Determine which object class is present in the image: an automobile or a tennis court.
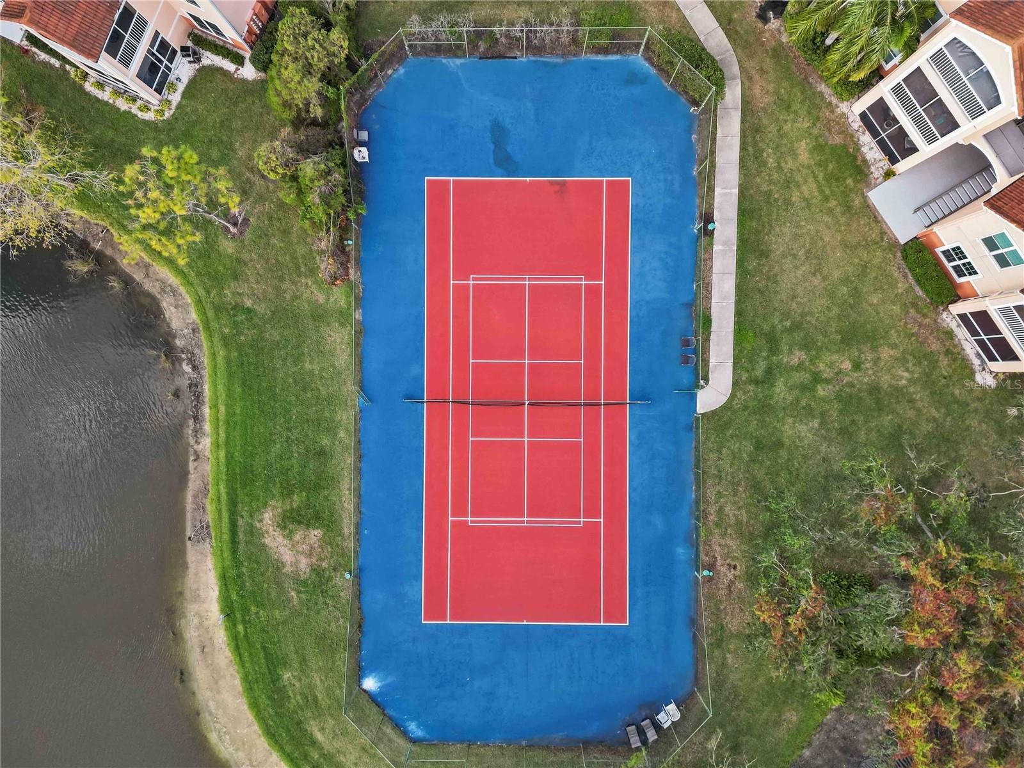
tennis court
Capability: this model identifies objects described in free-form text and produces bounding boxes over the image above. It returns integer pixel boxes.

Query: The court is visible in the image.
[360,56,697,745]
